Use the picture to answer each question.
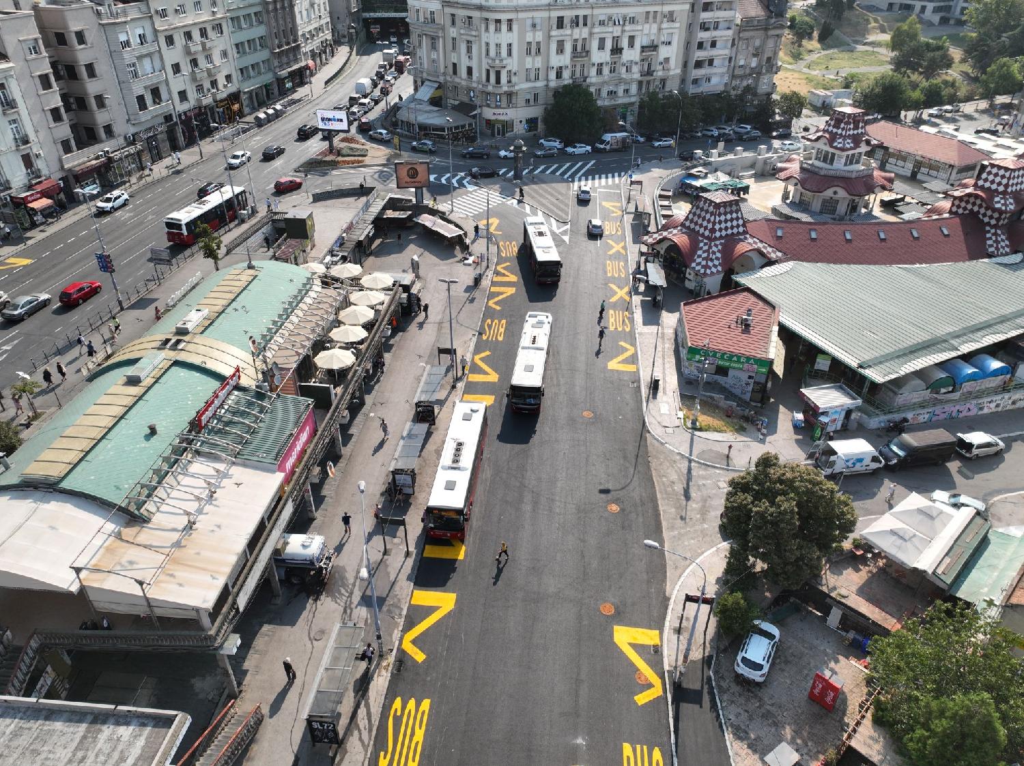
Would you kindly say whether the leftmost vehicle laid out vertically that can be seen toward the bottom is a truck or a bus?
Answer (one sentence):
The leftmost vehicle laid out vertically that can be seen toward the bottom can be classified as a bus.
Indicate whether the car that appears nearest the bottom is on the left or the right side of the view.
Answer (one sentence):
The car that appears nearest the bottom is on the right side of the image.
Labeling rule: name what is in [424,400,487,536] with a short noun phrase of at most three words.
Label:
bus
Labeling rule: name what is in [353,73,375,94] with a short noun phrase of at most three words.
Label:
truck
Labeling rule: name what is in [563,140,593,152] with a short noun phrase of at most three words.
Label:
vehicle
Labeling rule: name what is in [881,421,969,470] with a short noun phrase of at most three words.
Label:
van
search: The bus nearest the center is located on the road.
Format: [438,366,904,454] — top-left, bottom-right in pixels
[509,307,551,409]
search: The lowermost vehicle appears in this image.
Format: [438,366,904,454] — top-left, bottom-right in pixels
[741,621,781,695]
